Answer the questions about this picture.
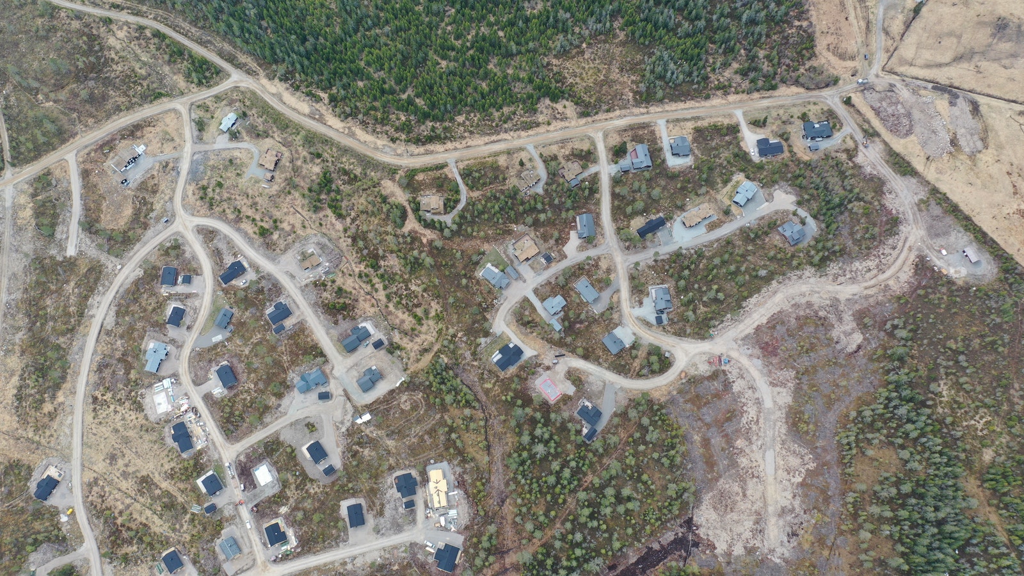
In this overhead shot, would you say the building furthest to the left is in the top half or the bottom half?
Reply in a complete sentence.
Seen from above, the building furthest to the left lies in the bottom half of the view.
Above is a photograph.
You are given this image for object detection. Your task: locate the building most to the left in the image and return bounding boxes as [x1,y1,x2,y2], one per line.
[35,465,65,502]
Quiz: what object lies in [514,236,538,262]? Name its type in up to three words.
building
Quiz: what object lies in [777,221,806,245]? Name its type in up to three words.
building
